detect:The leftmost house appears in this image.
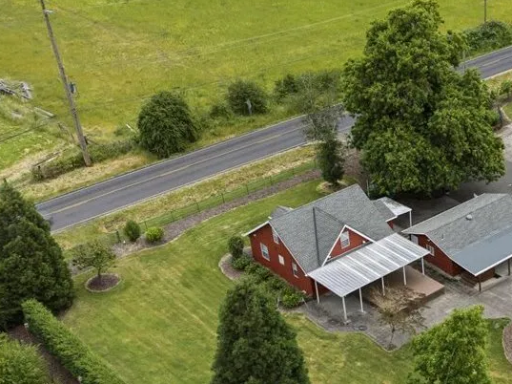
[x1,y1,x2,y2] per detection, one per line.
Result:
[241,184,444,321]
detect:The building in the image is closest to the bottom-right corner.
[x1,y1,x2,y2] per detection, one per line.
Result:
[400,191,512,289]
